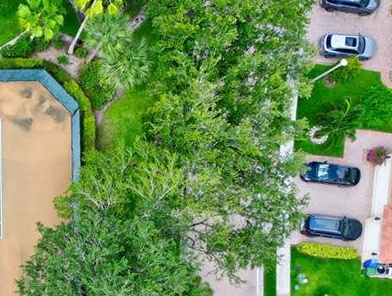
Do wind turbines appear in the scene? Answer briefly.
No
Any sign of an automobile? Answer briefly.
Yes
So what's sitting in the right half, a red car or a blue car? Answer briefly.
blue car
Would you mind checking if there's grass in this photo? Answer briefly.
Yes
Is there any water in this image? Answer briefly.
No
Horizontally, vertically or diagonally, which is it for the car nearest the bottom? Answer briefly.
horizontally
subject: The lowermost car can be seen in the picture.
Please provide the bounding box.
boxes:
[300,214,361,241]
